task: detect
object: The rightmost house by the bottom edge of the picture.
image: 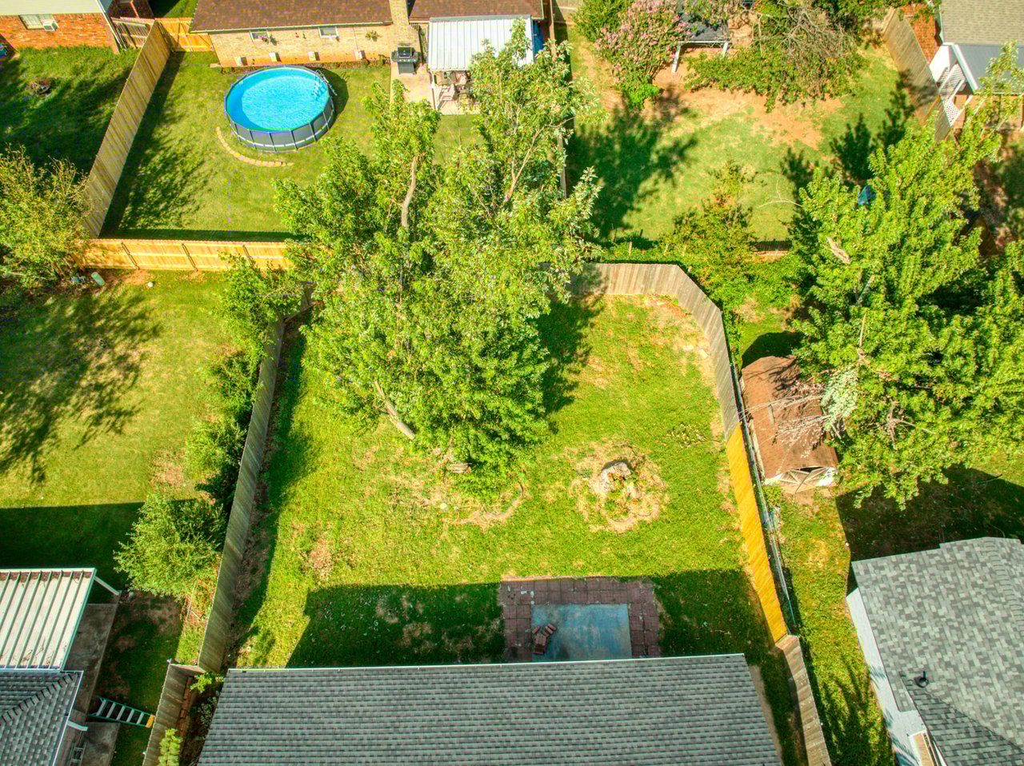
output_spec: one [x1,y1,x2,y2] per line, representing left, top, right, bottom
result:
[849,532,1024,766]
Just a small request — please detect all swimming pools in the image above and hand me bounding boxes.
[225,68,339,155]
